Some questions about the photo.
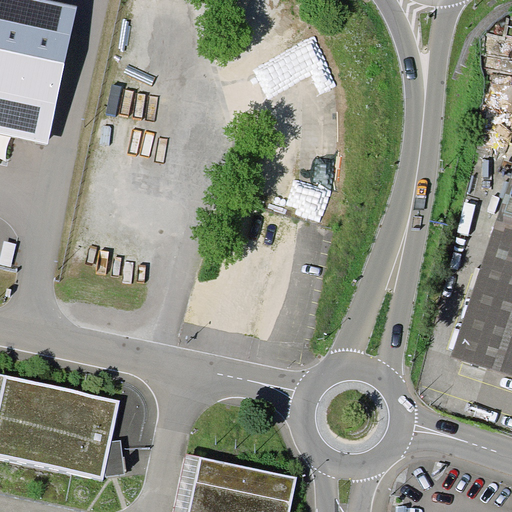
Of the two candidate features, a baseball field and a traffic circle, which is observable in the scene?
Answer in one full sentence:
The one in the frame is a traffic circle.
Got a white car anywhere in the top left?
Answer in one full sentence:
No, there's no white car to be seen in the top left.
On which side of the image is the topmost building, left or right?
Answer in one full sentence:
The topmost building is on the left side of the image.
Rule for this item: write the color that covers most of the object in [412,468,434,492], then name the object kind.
white car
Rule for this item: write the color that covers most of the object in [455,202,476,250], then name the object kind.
white vehicle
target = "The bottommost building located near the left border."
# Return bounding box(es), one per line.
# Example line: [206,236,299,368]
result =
[0,374,118,483]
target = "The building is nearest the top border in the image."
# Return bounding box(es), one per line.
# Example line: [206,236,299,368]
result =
[0,0,76,146]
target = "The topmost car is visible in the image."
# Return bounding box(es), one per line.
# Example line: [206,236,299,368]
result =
[404,56,417,79]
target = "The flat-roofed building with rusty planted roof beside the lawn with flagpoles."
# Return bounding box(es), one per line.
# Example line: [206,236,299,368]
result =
[190,458,296,512]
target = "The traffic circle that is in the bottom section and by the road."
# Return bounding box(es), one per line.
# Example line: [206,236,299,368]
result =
[287,350,418,484]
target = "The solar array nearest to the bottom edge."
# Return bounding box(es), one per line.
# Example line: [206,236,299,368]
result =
[0,96,41,128]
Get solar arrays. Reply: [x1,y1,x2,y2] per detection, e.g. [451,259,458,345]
[0,0,62,30]
[0,96,41,128]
